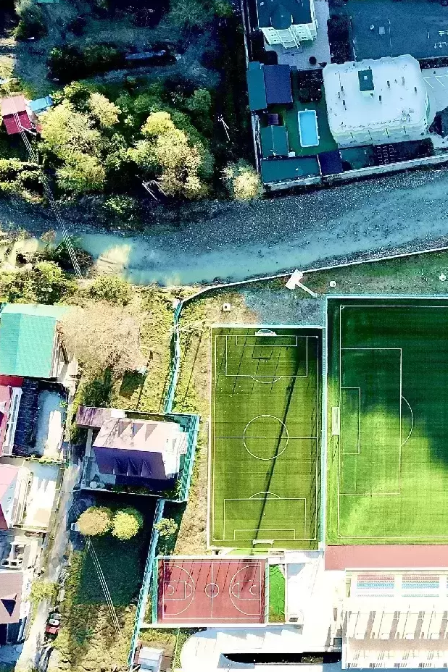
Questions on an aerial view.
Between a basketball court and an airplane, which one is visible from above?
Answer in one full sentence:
Of the two, only a basketball court appears.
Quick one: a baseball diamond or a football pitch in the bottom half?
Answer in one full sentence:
You can see a football pitch in the bottom half.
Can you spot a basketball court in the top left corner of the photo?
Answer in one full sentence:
No, no basketball court can be made out in the top left corner of the photo.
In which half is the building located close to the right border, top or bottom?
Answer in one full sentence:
The building located close to the right border is in the top half of the image.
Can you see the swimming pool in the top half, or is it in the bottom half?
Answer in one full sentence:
Seen from above, the swimming pool lies in the top half of the view.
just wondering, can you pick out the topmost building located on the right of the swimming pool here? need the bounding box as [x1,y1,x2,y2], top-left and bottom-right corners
[323,53,432,151]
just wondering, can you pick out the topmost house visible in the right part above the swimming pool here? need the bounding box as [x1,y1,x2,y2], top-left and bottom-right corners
[257,0,318,52]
